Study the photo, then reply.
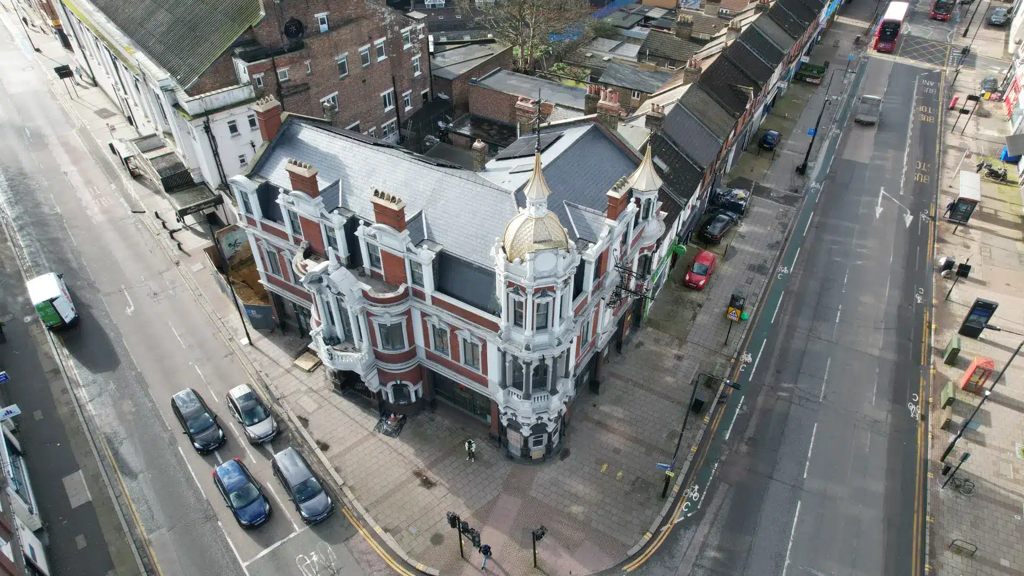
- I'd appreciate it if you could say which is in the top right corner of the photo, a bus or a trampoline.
bus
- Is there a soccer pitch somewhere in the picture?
No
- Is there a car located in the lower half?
Yes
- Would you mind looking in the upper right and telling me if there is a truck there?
Yes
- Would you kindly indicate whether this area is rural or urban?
urban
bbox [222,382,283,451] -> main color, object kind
gray car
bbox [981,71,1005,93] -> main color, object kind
gray car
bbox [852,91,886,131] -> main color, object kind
gray truck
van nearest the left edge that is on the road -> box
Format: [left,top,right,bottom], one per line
[32,277,93,341]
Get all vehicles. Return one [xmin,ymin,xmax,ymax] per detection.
[166,385,229,461]
[699,209,740,244]
[206,452,274,536]
[982,158,1009,176]
[222,382,283,451]
[32,277,93,341]
[685,247,718,287]
[852,91,886,131]
[758,130,784,152]
[874,4,908,51]
[928,0,953,20]
[266,447,337,530]
[981,71,1005,93]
